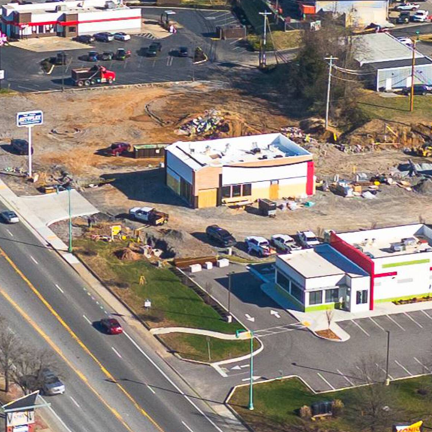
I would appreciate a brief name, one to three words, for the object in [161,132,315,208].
building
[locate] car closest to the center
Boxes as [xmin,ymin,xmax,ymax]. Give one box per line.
[208,222,234,242]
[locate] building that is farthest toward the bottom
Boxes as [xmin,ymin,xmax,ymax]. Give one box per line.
[273,224,432,311]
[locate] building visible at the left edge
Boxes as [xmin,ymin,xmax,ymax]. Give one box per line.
[2,0,140,40]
